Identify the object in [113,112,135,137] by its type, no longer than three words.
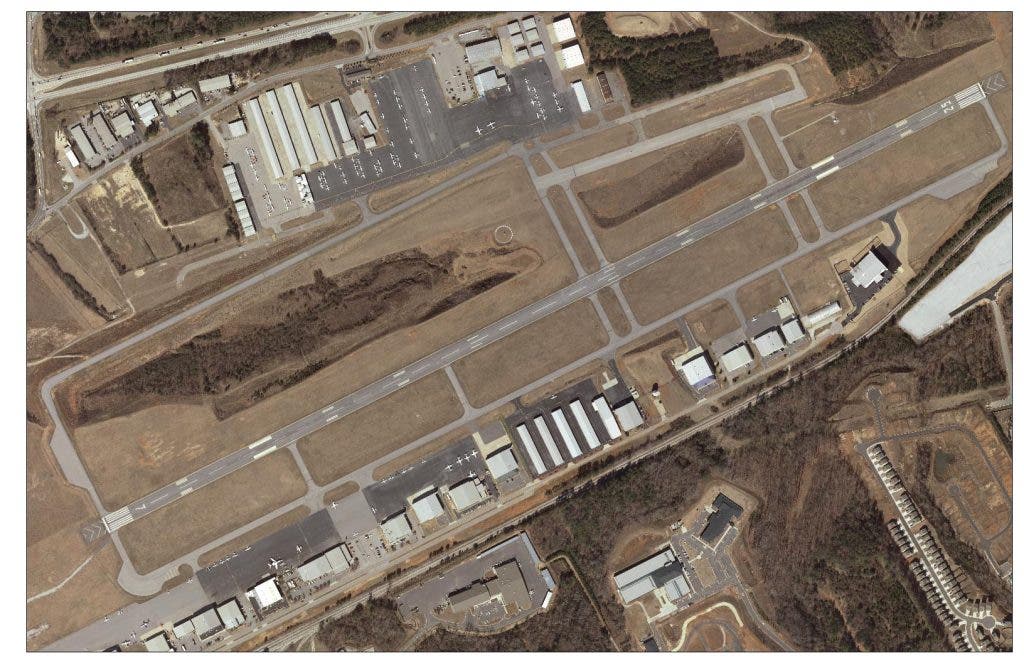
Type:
building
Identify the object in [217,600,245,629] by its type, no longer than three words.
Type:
hangar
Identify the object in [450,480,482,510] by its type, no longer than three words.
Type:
hangar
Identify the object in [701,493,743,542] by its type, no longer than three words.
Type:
building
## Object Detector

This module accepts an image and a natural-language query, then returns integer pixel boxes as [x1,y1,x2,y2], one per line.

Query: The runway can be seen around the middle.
[81,74,1006,541]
